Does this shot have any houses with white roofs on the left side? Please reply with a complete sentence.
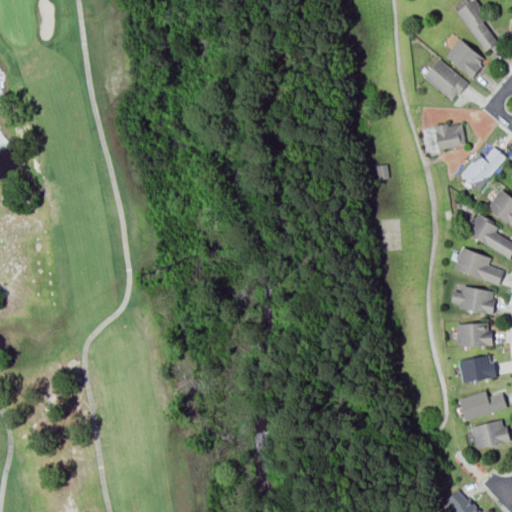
No, I see no house with a white roof on the left side.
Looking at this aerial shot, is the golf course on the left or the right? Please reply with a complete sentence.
You can find the golf course on the left side of the picture.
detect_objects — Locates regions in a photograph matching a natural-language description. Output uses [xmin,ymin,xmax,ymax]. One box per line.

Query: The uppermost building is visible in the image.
[452,0,498,52]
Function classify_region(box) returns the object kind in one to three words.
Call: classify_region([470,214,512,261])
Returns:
house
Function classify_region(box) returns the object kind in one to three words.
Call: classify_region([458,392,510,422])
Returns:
house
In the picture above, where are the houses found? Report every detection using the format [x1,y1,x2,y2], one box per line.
[456,246,506,285]
[470,420,510,448]
[460,358,499,384]
[459,149,508,188]
[425,58,470,101]
[458,323,494,347]
[452,0,498,52]
[470,214,512,261]
[488,190,512,232]
[446,38,488,78]
[458,392,510,422]
[442,489,480,512]
[450,286,496,316]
